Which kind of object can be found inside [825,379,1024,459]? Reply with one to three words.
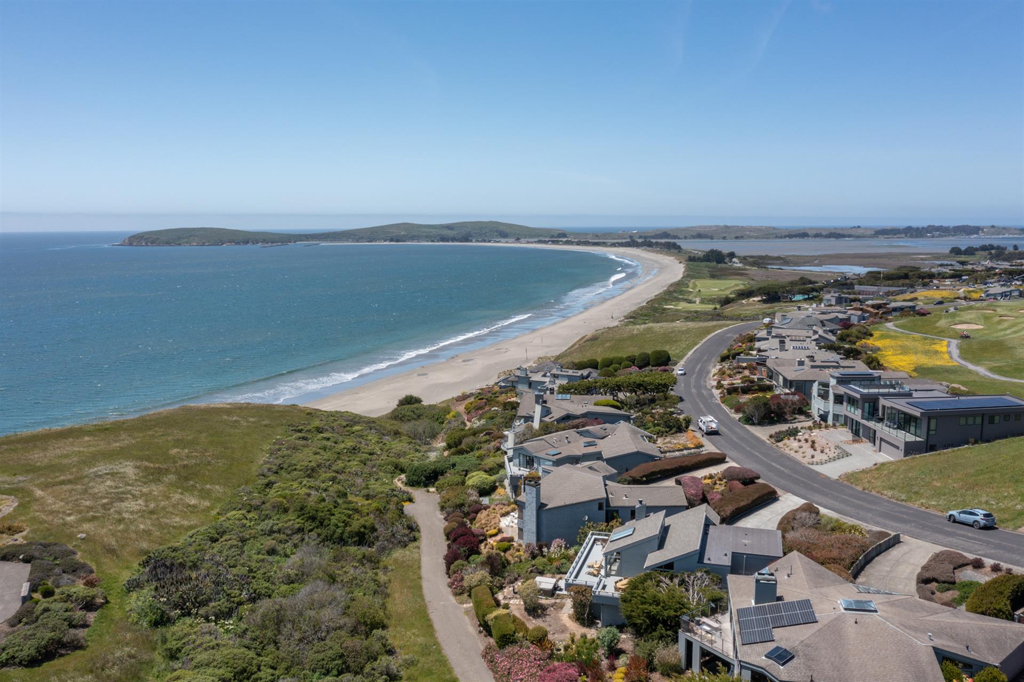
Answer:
house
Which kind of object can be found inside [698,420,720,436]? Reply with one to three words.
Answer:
vehicle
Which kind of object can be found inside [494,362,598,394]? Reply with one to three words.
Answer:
house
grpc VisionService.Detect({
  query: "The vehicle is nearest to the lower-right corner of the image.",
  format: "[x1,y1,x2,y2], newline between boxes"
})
[946,508,1000,531]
